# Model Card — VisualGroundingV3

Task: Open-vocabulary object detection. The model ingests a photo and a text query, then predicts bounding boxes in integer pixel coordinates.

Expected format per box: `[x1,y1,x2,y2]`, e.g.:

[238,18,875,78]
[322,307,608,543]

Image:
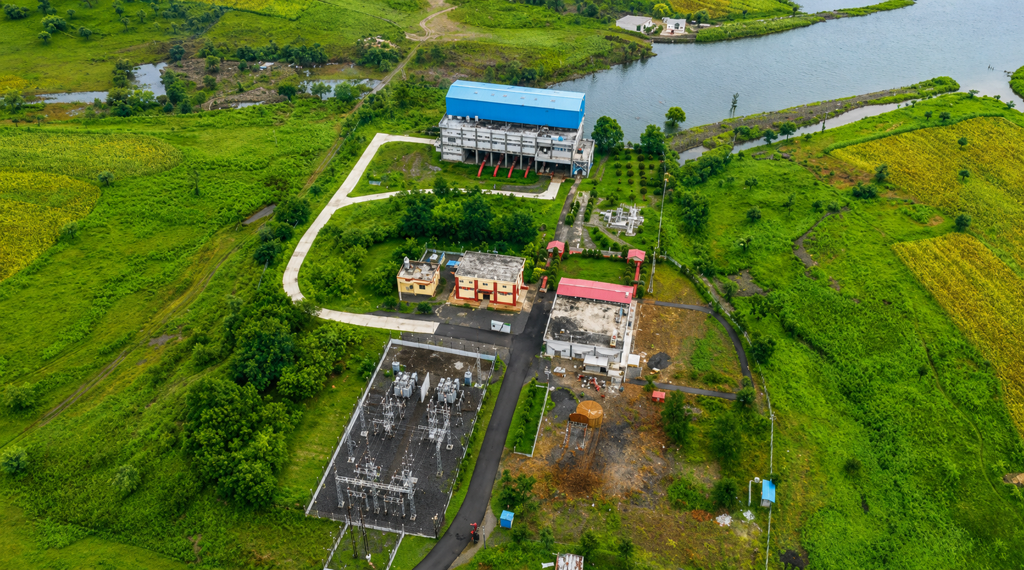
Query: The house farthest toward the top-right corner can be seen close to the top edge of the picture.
[668,16,691,35]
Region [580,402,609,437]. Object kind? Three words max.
storage tank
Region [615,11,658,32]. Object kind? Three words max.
building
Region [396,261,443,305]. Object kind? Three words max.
house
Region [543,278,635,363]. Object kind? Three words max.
building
